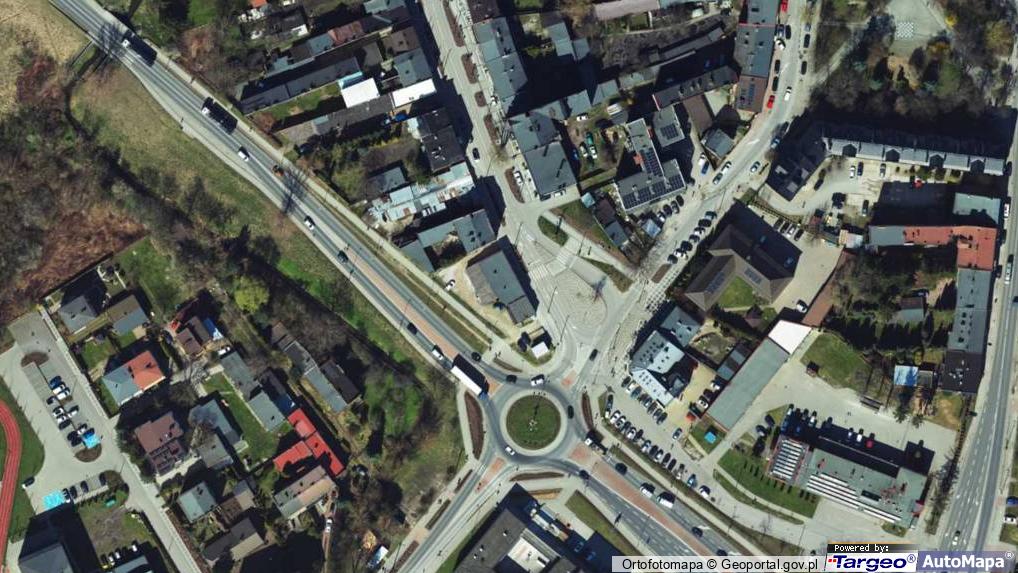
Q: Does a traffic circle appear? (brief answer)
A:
Yes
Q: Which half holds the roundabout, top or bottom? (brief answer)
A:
bottom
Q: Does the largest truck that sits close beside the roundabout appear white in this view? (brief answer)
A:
Yes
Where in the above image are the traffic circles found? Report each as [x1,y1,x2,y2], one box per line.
[484,373,584,473]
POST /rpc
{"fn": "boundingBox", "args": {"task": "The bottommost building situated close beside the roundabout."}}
[443,507,579,573]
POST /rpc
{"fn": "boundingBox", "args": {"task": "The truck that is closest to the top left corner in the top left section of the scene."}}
[124,41,152,65]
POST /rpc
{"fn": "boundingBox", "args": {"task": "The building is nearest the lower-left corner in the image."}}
[19,541,86,573]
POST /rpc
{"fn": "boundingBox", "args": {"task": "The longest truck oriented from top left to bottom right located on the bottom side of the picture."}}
[450,368,487,400]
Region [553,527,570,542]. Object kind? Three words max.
vehicle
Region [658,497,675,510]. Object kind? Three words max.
vehicle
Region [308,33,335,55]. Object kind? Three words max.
shed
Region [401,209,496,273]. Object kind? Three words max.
house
